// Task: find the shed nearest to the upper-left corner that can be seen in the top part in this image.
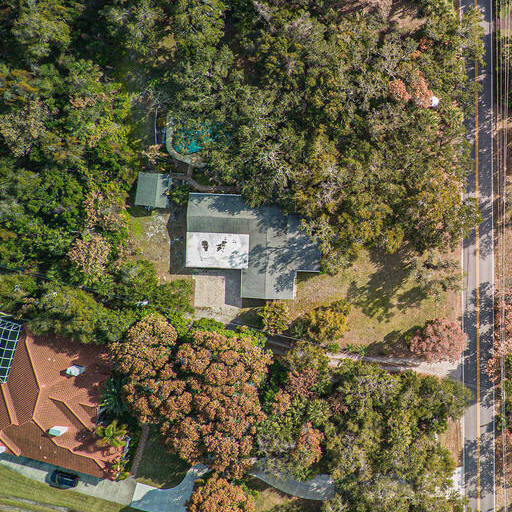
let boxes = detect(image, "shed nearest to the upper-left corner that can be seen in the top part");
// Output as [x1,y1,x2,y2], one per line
[132,172,170,208]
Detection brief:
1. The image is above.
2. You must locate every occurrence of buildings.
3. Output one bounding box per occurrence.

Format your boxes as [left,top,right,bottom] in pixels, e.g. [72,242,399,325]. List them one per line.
[0,327,120,481]
[185,192,321,300]
[132,172,170,208]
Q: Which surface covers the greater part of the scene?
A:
trees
